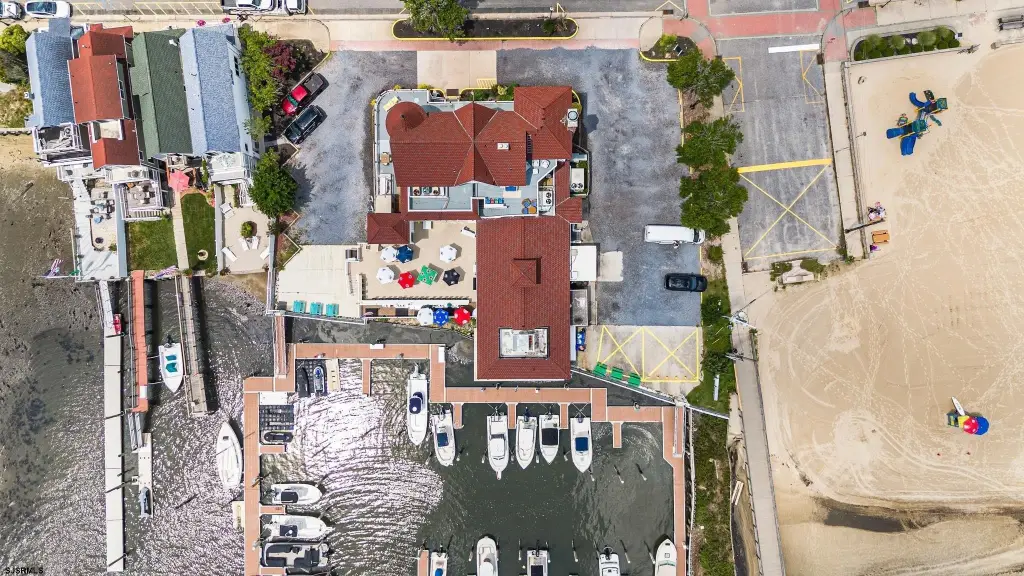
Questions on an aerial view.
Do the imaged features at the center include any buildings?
Yes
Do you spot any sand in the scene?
Yes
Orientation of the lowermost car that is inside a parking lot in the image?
horizontally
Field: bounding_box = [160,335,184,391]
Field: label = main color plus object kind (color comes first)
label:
white boat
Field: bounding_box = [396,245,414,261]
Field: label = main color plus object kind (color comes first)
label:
blue umbrella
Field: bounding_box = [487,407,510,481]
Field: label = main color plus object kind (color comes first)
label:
white boat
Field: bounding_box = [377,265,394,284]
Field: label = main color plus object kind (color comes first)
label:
white umbrella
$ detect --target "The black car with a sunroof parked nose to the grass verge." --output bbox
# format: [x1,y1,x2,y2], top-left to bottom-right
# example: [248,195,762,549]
[663,272,705,292]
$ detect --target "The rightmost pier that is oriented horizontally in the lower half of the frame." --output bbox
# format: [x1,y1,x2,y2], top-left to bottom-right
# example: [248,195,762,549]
[608,405,662,422]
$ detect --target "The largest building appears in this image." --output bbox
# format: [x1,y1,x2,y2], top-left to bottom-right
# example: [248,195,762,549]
[367,86,582,383]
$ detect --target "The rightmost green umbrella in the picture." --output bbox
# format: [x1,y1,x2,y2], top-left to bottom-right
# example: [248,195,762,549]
[417,264,439,285]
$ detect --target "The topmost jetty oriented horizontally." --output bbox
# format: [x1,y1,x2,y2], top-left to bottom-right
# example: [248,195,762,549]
[296,344,430,359]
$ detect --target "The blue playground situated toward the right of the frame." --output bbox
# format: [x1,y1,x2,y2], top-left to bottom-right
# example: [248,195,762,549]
[887,91,954,156]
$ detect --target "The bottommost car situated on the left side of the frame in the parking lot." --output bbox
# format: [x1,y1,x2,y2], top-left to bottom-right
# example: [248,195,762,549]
[286,106,327,144]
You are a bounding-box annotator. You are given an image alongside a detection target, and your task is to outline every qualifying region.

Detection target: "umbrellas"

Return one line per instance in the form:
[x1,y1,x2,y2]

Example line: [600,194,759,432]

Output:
[974,415,990,434]
[380,245,397,263]
[396,245,414,261]
[377,265,394,284]
[443,268,460,286]
[168,170,191,193]
[417,307,434,326]
[417,264,439,285]
[439,245,457,262]
[433,308,449,325]
[962,417,977,431]
[398,271,415,288]
[453,308,470,324]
